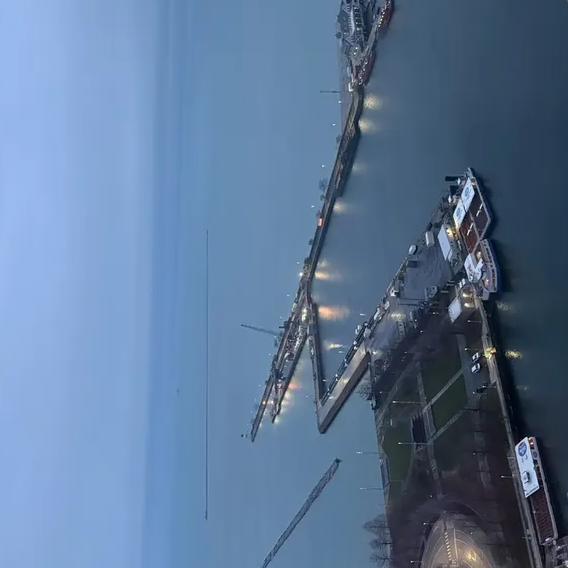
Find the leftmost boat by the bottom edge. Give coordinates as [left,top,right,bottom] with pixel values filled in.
[517,437,564,544]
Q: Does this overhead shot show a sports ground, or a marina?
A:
marina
